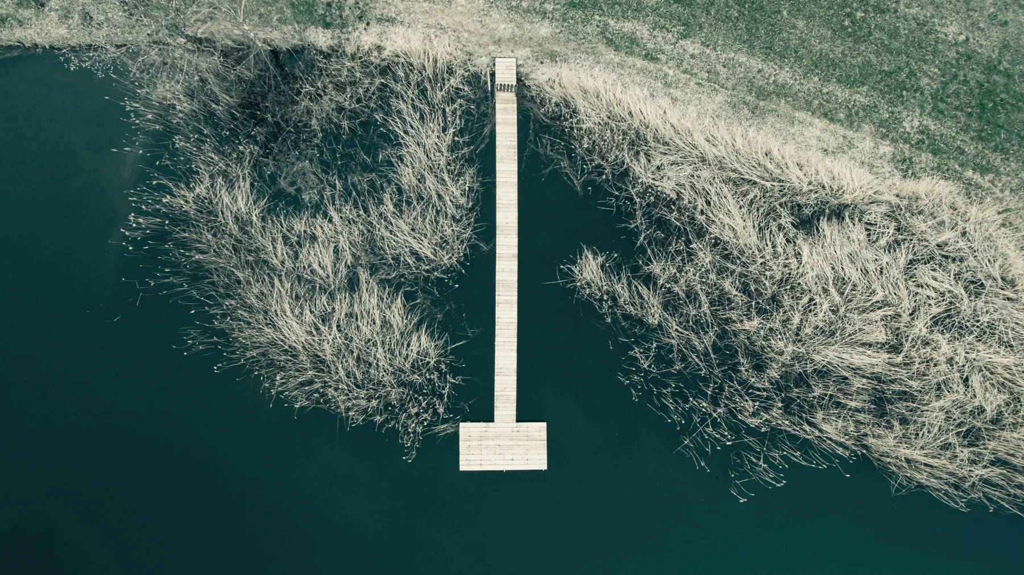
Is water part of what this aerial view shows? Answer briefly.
Yes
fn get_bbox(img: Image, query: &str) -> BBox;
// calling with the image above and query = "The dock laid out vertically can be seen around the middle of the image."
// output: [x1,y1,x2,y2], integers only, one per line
[459,58,547,473]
